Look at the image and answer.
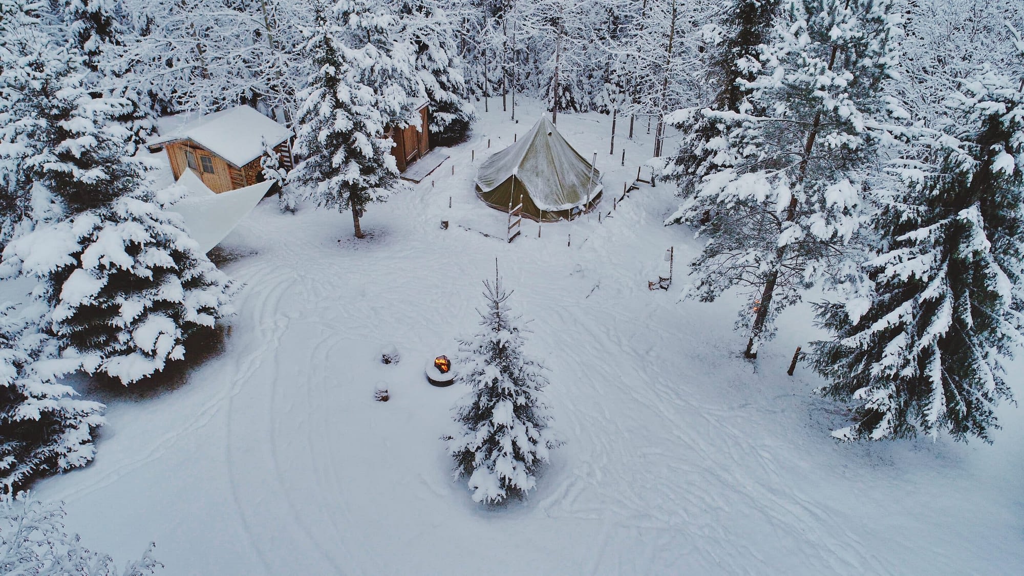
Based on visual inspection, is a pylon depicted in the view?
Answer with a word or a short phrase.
No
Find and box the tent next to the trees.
[473,110,605,223]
